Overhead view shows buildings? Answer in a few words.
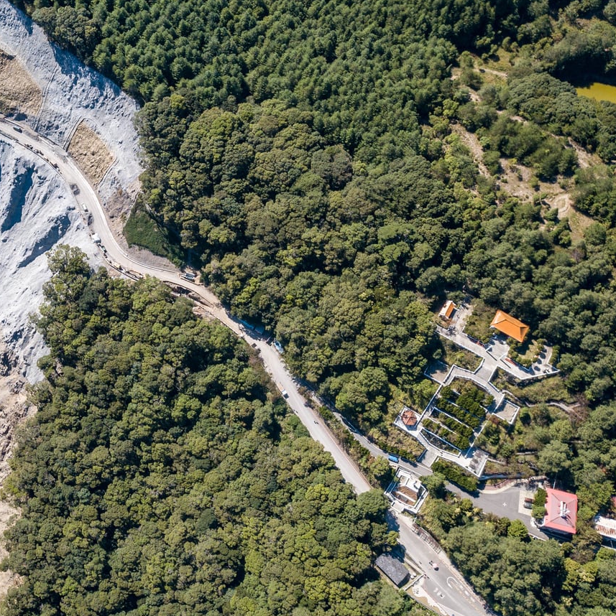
Yes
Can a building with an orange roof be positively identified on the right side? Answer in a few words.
Yes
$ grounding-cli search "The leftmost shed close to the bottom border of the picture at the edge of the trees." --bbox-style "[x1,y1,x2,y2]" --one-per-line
[375,554,410,586]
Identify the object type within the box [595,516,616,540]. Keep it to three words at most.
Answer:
shed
